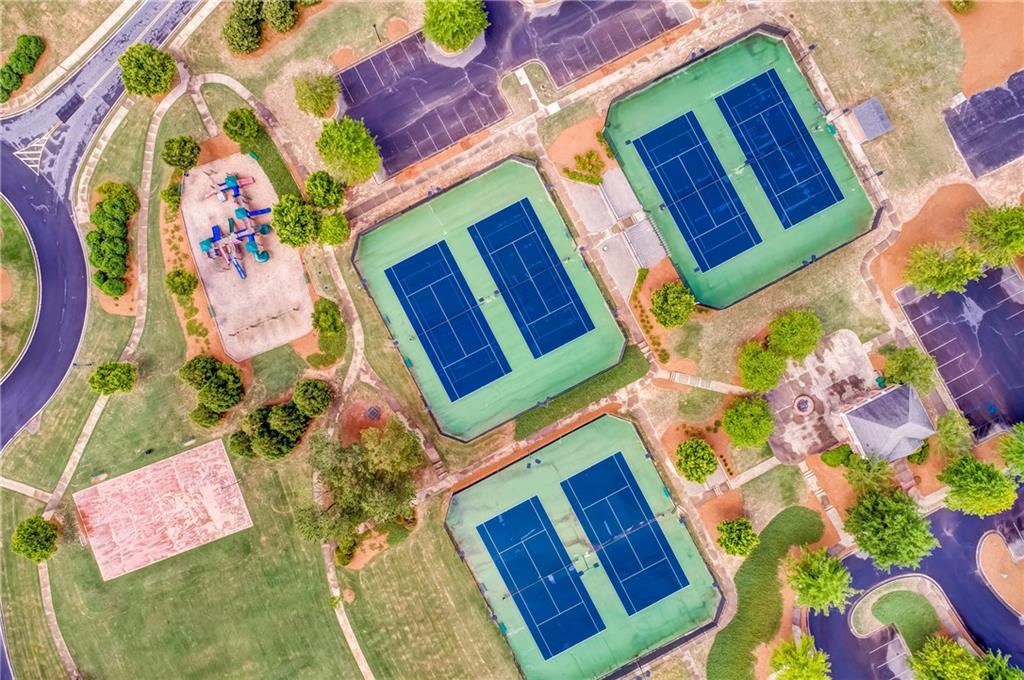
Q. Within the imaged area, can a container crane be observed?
No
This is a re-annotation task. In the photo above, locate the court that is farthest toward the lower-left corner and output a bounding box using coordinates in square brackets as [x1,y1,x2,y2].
[71,439,254,582]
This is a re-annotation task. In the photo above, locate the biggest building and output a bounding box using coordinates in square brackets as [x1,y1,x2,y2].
[834,384,935,461]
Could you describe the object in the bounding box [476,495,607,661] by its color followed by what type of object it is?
blue tennis court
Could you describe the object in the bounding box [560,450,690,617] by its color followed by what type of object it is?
blue tennis court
